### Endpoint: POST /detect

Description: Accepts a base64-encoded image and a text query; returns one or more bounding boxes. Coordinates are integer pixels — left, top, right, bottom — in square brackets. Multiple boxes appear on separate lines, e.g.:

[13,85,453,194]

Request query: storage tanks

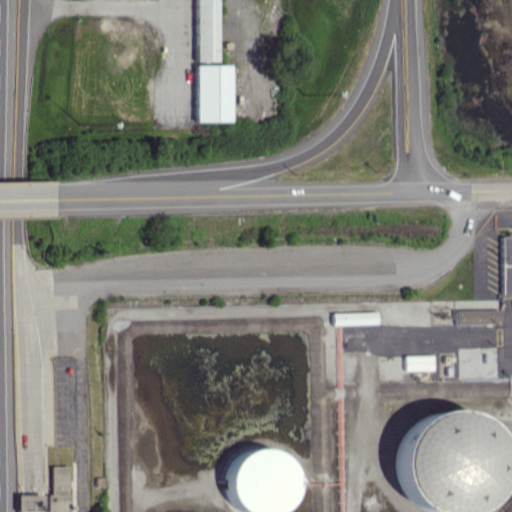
[218,450,309,512]
[396,410,512,512]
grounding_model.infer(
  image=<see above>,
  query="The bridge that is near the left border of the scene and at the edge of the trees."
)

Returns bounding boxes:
[0,182,58,219]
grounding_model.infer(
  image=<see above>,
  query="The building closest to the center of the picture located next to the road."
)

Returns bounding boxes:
[332,312,381,327]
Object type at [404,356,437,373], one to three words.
shed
